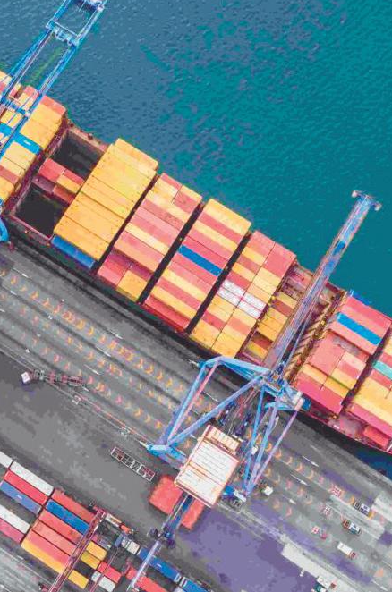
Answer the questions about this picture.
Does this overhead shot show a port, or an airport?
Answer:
port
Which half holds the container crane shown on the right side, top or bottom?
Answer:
bottom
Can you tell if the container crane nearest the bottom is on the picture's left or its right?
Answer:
left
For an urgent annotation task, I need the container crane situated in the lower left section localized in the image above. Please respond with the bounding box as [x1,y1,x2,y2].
[36,493,133,592]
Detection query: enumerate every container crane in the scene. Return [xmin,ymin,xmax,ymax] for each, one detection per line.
[36,493,133,592]
[0,0,112,254]
[131,184,388,592]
